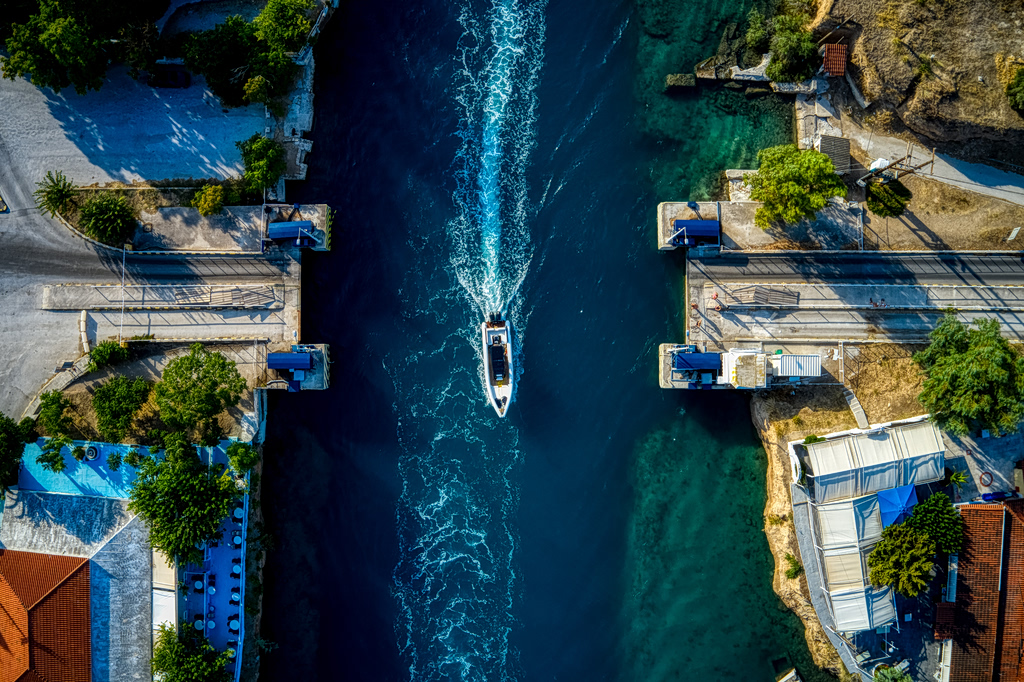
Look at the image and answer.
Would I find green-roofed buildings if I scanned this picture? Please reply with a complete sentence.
No, the scene contains no green-roofed building.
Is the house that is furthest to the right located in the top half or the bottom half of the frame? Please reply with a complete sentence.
It is in the bottom half that the house that is furthest to the right appears.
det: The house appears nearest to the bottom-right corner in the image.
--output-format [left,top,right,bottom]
[936,500,1024,682]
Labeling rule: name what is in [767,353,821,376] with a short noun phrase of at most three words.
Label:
building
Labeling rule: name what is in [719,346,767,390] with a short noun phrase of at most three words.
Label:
building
